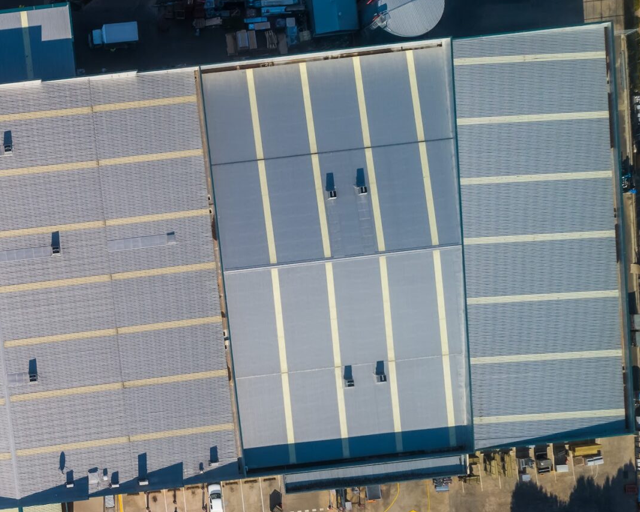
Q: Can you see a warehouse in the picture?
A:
Yes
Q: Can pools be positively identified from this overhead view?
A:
No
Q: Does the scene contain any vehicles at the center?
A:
No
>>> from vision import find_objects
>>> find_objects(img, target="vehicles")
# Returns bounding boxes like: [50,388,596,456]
[206,483,225,512]
[90,19,141,47]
